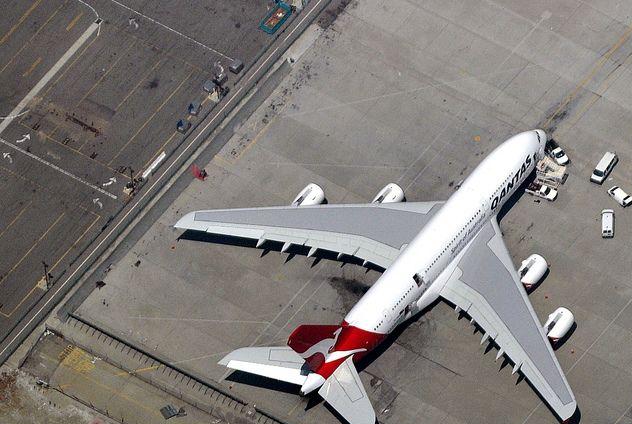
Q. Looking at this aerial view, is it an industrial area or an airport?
airport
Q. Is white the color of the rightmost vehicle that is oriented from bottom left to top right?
Yes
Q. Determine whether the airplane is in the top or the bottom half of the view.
bottom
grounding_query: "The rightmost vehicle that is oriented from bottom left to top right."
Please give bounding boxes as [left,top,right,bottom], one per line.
[590,151,617,186]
